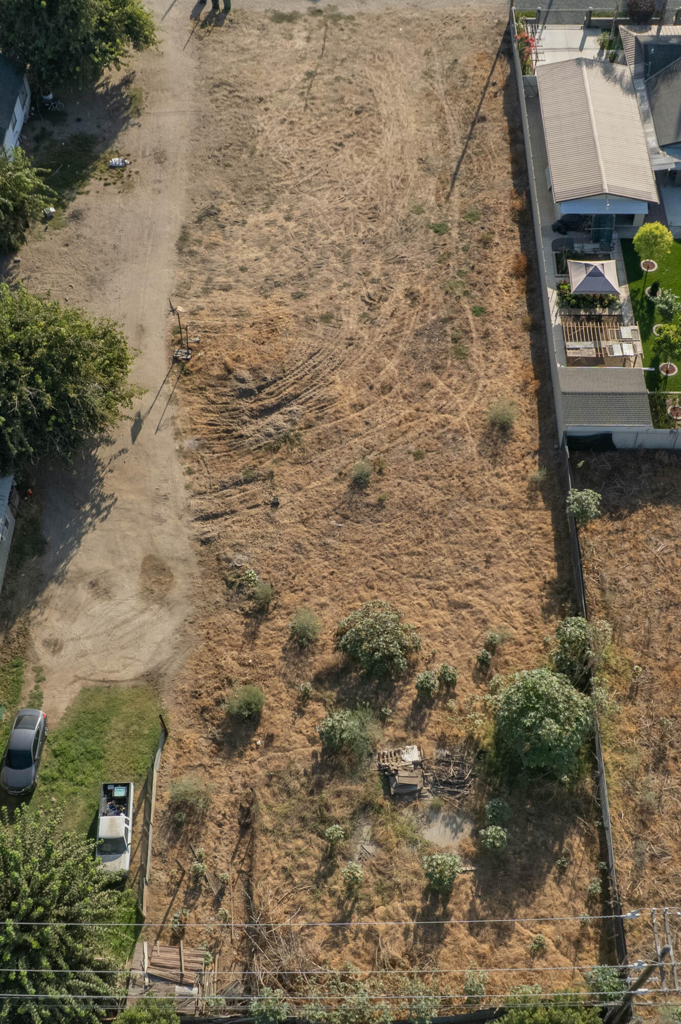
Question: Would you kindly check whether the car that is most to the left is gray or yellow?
gray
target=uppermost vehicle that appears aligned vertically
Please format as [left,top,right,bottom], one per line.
[0,710,50,799]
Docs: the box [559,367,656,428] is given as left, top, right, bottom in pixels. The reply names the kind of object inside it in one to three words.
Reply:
shed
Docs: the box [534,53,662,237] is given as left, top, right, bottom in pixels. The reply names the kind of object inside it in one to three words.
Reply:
building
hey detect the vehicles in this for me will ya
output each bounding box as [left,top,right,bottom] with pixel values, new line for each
[0,710,50,799]
[91,783,137,886]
